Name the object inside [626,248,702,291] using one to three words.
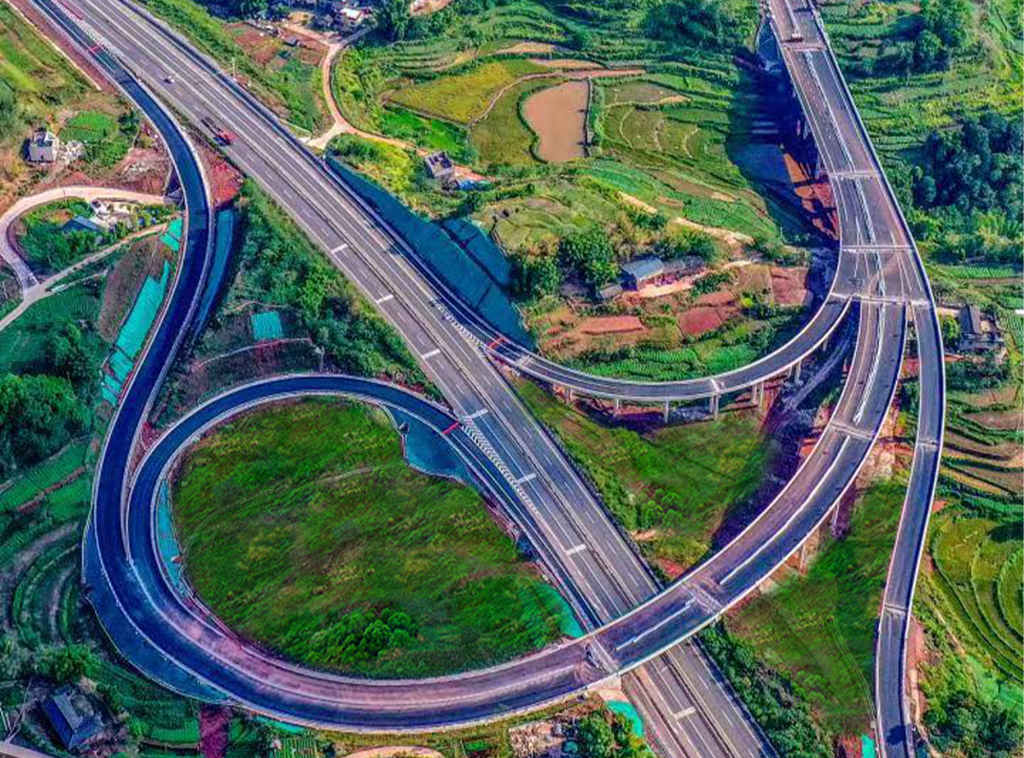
house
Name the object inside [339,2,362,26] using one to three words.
house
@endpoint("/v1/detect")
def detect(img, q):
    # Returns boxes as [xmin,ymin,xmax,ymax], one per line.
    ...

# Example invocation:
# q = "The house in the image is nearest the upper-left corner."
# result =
[27,133,56,158]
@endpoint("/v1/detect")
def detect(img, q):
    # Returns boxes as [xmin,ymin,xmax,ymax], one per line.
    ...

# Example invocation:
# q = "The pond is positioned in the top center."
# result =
[523,80,589,161]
